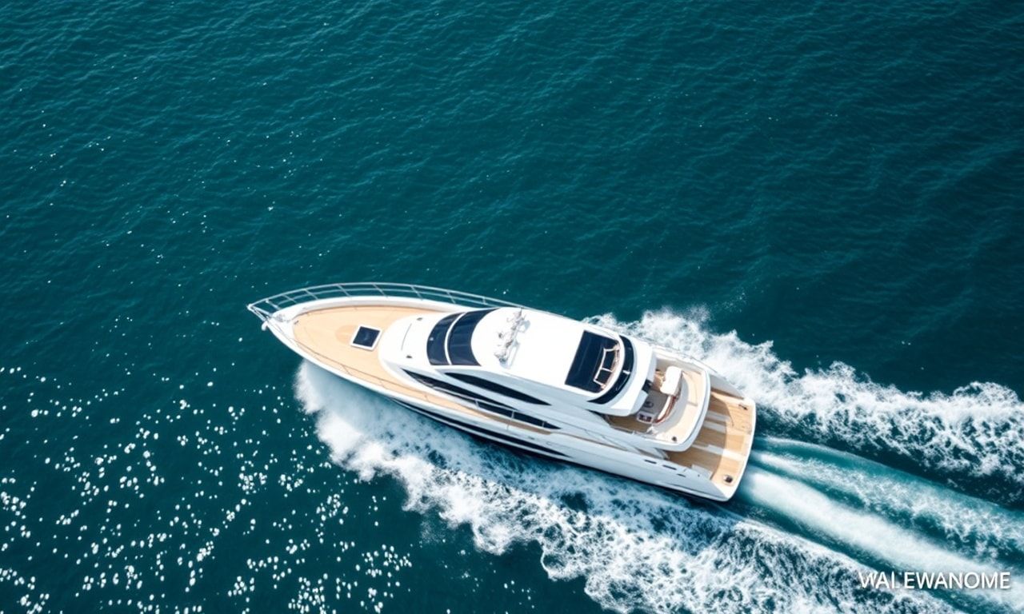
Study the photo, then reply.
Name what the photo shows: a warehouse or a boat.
boat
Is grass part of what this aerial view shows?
No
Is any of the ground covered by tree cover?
No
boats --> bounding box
[248,283,755,503]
